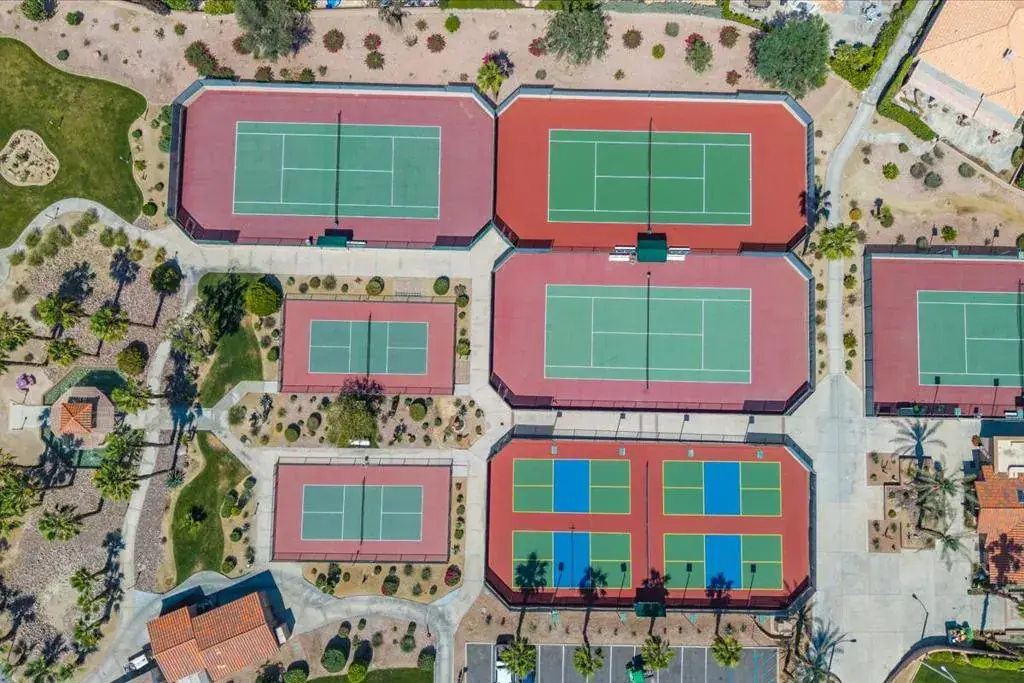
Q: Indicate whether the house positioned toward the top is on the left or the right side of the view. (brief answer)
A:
right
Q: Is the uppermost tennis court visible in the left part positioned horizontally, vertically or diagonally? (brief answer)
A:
horizontally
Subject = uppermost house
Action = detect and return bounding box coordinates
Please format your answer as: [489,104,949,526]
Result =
[898,0,1024,136]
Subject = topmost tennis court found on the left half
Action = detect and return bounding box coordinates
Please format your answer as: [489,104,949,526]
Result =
[180,88,494,249]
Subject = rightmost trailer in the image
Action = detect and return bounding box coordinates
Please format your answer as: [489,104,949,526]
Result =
[946,620,977,644]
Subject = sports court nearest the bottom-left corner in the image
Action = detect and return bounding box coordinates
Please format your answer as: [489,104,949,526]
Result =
[273,465,451,562]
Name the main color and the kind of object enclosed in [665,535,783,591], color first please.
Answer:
green sports court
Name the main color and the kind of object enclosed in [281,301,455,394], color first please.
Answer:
pink sports court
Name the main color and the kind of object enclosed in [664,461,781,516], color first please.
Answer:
green sports court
